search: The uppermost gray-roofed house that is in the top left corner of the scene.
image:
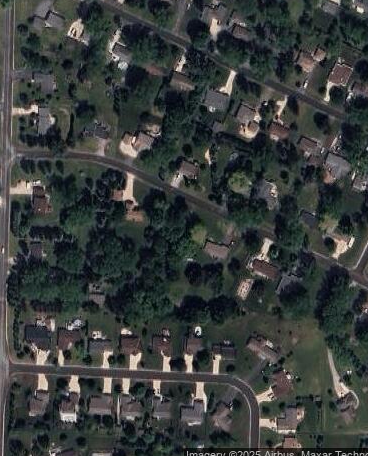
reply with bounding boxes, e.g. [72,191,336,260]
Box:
[33,0,64,29]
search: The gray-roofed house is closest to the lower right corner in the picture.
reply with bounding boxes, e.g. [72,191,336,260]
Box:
[337,390,360,423]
